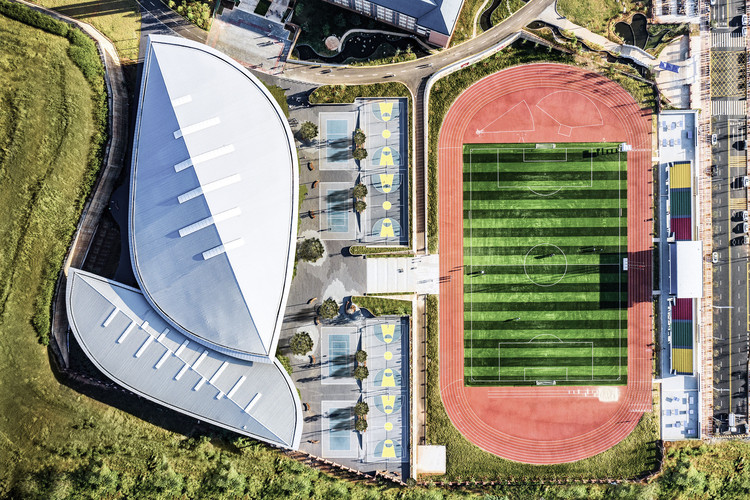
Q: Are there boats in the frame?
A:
No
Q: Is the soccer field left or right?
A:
right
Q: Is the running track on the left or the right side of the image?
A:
right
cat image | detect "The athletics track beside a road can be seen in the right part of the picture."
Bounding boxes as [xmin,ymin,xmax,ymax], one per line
[438,63,655,463]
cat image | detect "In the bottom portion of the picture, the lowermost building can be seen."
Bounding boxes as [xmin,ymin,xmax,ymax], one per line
[417,445,447,473]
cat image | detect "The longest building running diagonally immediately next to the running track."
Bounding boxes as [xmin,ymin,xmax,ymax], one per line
[67,270,302,449]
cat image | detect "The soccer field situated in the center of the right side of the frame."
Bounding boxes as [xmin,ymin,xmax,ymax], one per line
[464,143,628,387]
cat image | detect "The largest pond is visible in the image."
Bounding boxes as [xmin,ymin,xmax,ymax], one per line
[295,34,417,62]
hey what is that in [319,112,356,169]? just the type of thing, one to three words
sports court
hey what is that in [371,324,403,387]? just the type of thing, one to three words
basketball court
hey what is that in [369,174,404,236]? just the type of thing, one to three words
basketball court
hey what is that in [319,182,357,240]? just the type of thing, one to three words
sports court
